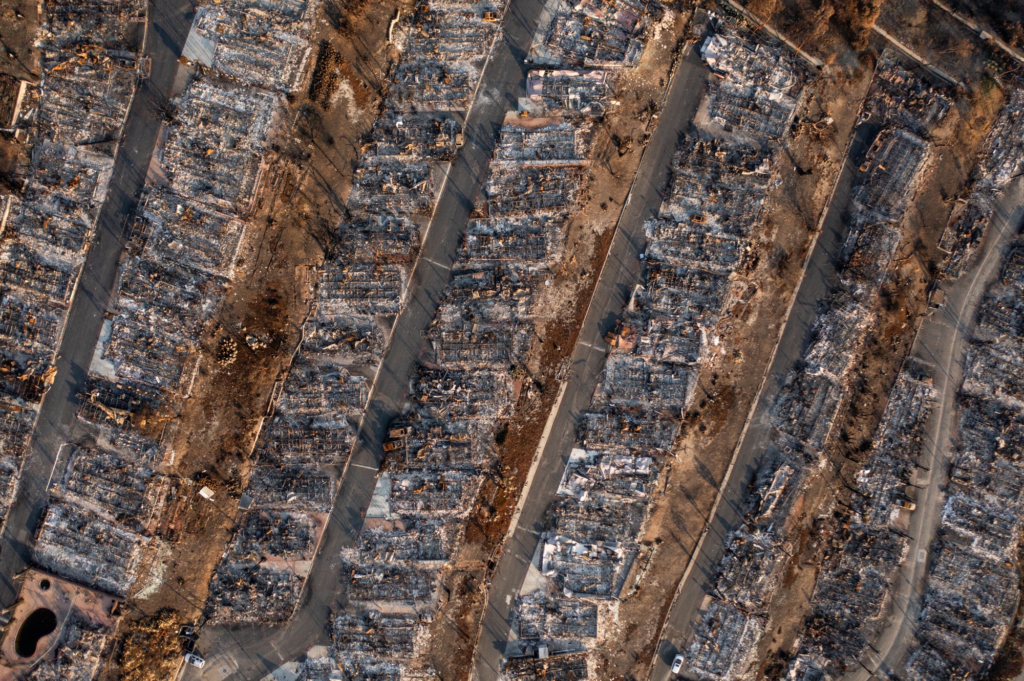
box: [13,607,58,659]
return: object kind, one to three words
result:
swimming pool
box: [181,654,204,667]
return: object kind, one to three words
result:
vehicle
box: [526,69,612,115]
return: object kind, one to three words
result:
house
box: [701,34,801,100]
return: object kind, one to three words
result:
house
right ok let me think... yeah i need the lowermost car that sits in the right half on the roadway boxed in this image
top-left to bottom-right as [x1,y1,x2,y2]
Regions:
[670,653,684,676]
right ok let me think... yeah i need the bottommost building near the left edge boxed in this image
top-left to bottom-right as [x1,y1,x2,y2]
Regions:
[33,626,126,681]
